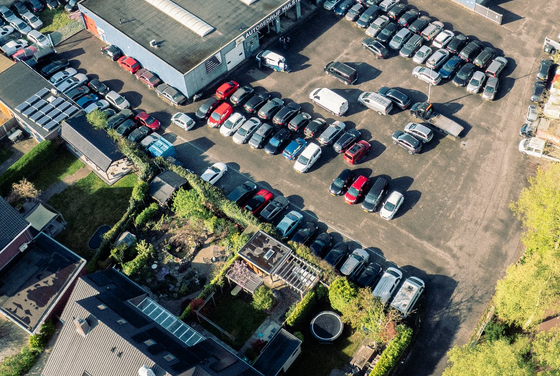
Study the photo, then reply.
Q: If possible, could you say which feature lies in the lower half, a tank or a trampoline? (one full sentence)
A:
The one visible in the lower half is a trampoline.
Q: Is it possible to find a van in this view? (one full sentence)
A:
Yes, the photo shows a van.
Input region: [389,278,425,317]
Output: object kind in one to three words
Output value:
van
